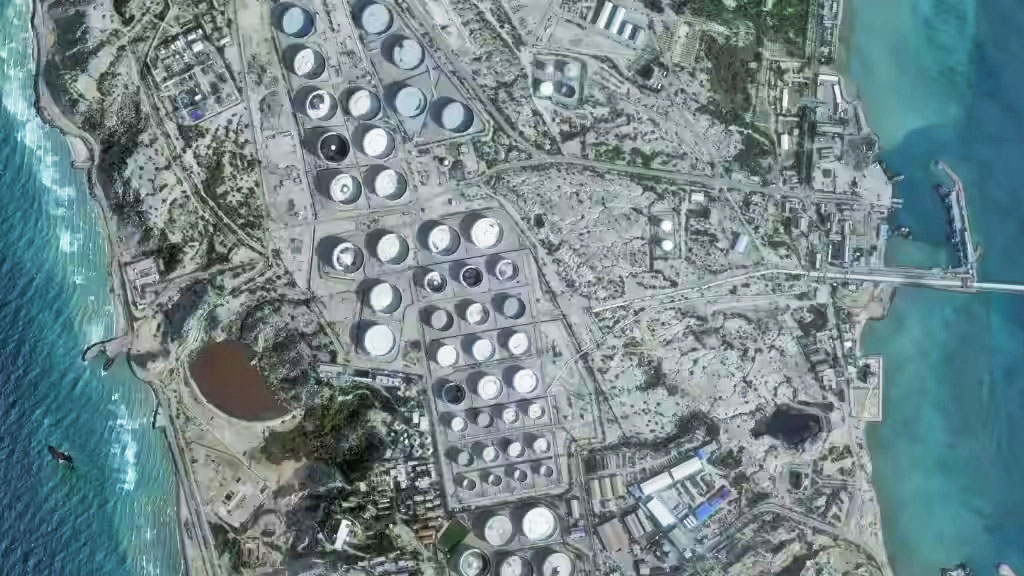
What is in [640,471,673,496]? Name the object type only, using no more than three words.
building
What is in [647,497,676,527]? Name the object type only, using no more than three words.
building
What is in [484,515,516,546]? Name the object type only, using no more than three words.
storage tank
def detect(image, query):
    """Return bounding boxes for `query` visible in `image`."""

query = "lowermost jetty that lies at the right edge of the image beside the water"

[812,271,1024,291]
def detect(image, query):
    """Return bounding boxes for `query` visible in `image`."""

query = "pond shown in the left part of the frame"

[190,340,290,419]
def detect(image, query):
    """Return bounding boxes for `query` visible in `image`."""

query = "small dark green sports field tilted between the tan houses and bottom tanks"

[436,517,472,553]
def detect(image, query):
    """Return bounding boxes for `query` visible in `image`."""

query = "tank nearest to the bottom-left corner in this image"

[363,324,396,357]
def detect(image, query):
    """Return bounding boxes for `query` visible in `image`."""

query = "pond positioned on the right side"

[752,403,822,448]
